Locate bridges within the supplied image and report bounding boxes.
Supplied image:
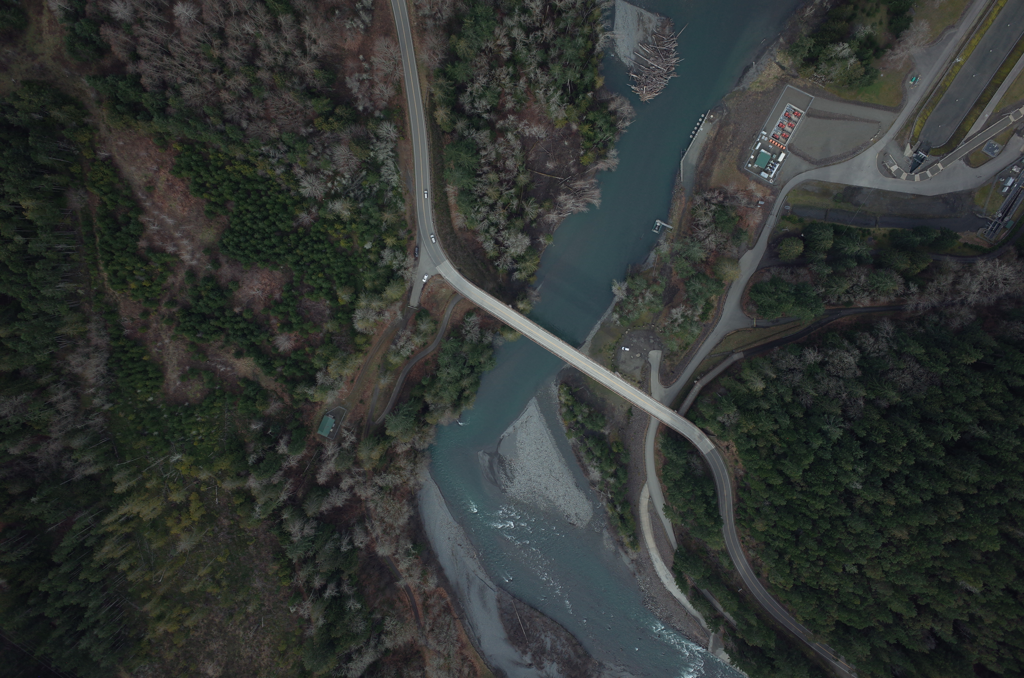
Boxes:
[435,257,716,455]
